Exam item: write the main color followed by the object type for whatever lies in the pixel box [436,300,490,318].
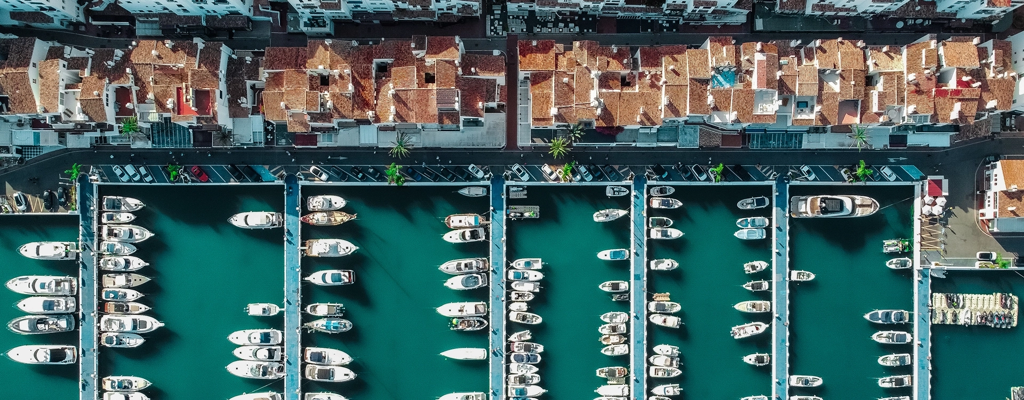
white boat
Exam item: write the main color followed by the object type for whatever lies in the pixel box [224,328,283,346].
white boat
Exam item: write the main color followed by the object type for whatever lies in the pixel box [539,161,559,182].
white car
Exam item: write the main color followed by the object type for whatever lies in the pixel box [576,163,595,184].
blue car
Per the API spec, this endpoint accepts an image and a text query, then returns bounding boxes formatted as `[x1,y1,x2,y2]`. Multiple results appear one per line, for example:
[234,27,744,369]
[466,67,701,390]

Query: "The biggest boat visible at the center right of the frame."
[789,188,918,219]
